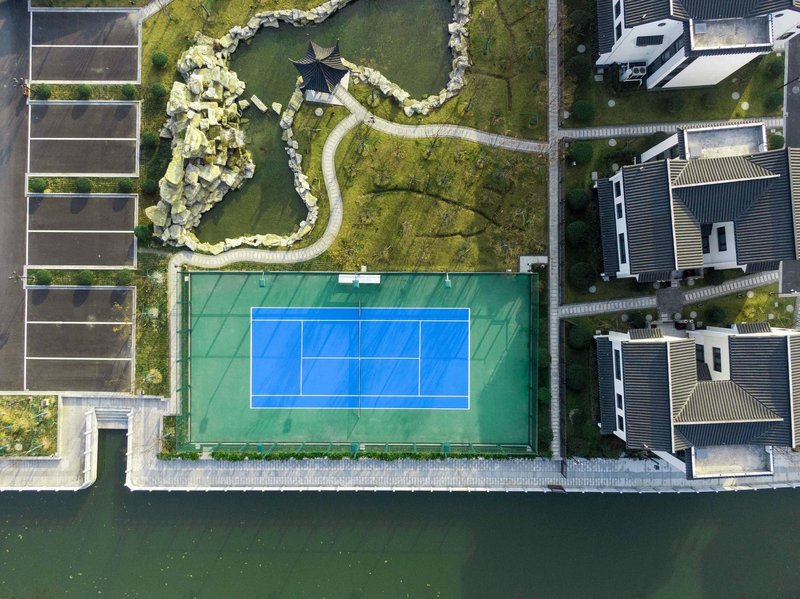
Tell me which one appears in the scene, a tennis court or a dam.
tennis court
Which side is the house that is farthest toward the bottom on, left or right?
right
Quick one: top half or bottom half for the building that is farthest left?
top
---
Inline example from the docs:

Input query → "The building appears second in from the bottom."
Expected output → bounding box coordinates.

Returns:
[585,123,800,281]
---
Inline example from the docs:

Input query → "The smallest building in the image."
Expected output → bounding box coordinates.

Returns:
[283,28,354,106]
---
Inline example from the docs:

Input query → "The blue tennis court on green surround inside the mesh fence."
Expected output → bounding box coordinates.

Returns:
[188,273,533,445]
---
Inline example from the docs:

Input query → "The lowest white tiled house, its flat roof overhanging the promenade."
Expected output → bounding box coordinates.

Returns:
[589,321,800,476]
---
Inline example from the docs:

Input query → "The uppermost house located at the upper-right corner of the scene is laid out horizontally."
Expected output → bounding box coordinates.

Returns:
[590,0,800,87]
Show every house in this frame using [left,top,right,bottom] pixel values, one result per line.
[585,123,800,281]
[590,0,800,87]
[589,321,800,476]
